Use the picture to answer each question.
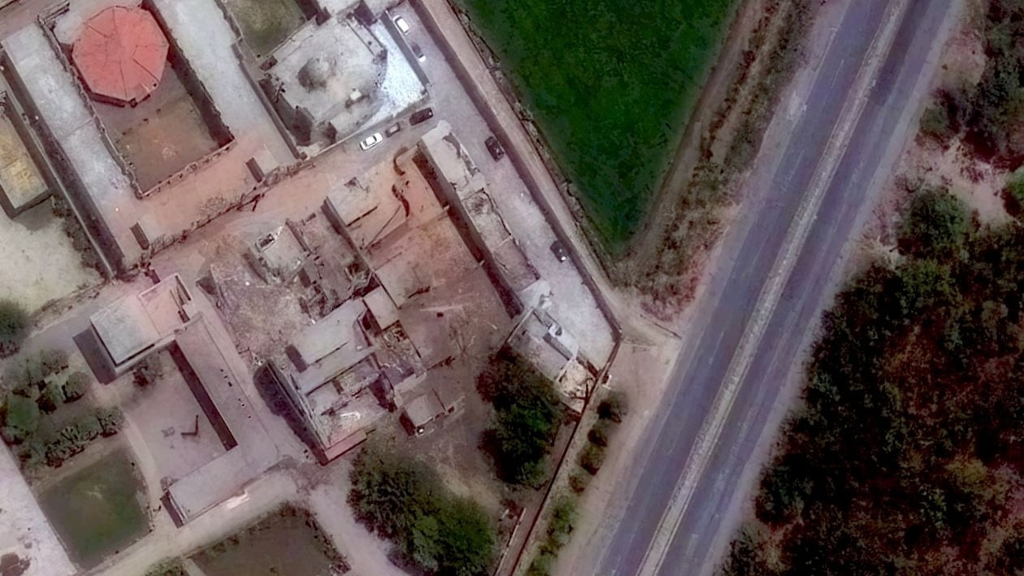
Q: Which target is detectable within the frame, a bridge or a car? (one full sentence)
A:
The one in the frame is a car.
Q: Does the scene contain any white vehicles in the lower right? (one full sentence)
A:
No, looking in the lower right, there is no white vehicle.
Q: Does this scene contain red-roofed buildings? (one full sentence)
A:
Yes, this view includes a red-roofed building.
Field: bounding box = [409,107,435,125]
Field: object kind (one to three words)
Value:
car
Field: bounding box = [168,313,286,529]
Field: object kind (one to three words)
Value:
building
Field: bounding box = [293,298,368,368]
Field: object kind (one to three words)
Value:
house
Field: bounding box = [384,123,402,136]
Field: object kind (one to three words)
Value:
vehicle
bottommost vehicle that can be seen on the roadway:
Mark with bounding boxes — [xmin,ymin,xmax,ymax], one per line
[550,240,568,262]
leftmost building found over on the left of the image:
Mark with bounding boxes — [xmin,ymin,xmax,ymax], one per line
[0,94,51,214]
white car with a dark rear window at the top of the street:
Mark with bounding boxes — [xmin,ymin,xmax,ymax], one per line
[392,13,411,36]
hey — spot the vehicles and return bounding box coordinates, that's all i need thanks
[409,107,435,125]
[359,133,383,150]
[410,40,427,62]
[550,240,568,262]
[384,123,402,136]
[485,136,504,160]
[392,13,411,36]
